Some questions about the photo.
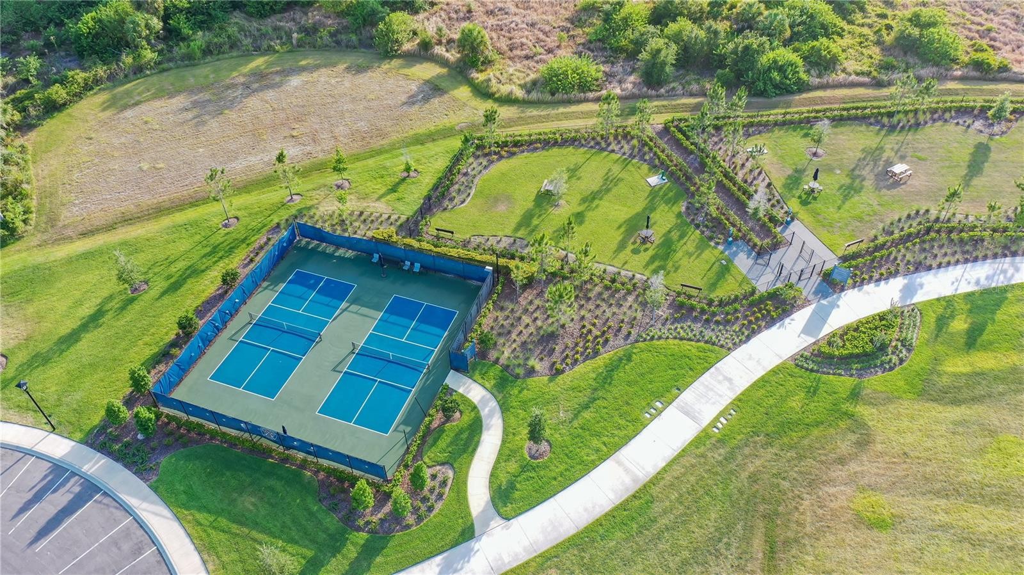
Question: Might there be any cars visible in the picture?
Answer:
No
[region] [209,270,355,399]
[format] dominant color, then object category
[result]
blue sports court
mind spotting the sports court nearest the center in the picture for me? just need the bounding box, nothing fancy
[317,295,458,435]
